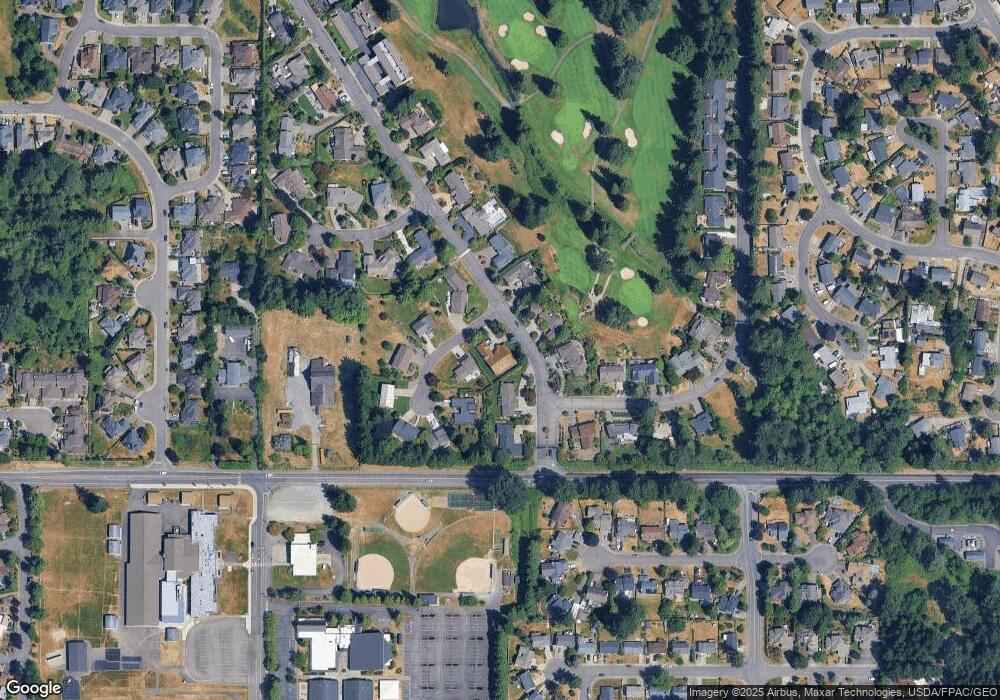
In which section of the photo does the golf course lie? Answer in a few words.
top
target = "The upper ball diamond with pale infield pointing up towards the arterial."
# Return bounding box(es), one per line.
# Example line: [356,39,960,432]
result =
[390,490,434,531]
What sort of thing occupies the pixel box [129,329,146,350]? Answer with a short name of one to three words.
house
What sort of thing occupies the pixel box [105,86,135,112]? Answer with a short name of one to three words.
house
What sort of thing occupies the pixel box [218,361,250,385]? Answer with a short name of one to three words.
building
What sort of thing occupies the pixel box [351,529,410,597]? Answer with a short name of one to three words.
baseball field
